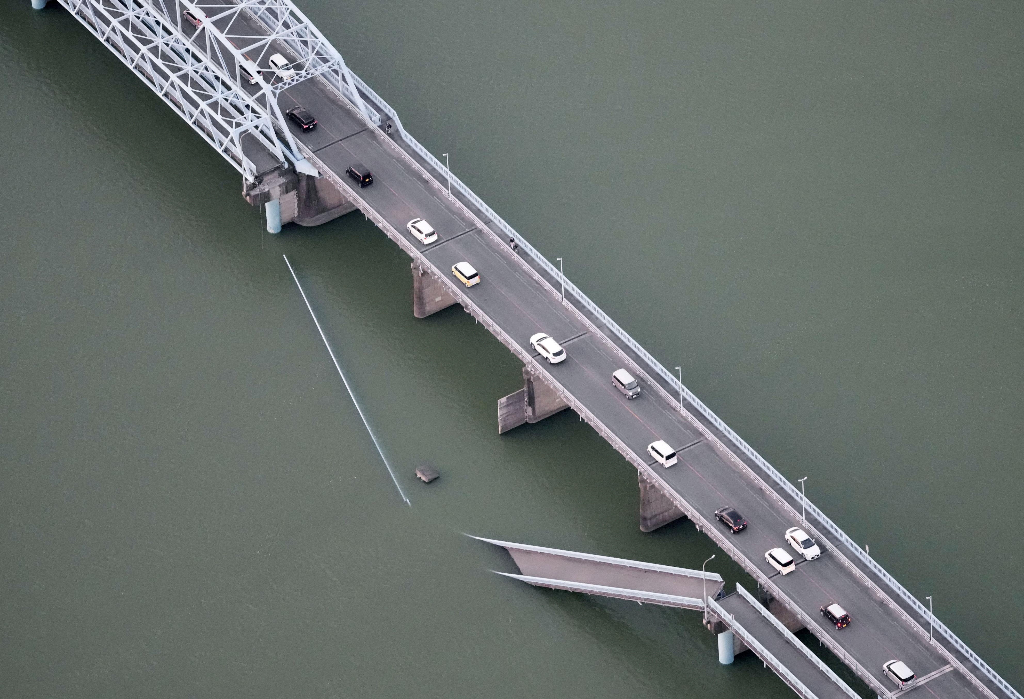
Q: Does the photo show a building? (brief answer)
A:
No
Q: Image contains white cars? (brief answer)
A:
Yes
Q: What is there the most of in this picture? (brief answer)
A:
water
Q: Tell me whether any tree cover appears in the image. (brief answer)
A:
No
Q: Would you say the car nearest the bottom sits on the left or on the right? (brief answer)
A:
right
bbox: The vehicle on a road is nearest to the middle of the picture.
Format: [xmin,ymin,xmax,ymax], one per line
[530,333,568,365]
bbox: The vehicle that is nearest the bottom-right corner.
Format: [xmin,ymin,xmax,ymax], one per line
[883,662,915,690]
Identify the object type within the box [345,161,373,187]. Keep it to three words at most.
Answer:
car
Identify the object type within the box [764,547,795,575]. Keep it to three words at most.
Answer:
car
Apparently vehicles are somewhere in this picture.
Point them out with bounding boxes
[611,367,641,400]
[284,103,320,133]
[883,662,915,690]
[407,219,439,246]
[715,505,752,536]
[647,441,678,468]
[764,547,795,575]
[181,8,211,34]
[530,333,568,365]
[820,602,852,630]
[452,263,481,288]
[784,526,824,561]
[269,52,297,82]
[345,161,373,187]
